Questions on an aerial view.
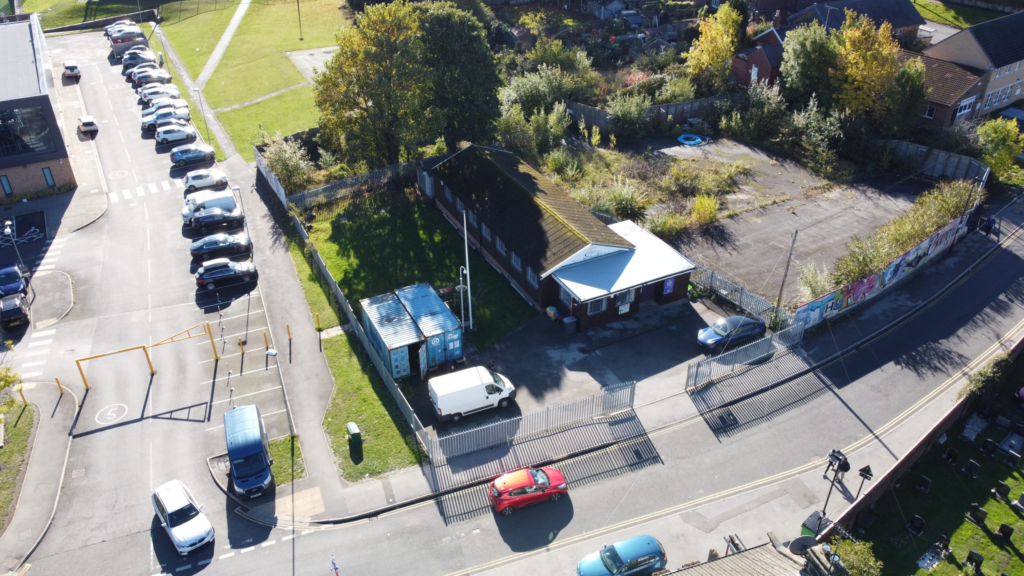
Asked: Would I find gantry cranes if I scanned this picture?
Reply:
No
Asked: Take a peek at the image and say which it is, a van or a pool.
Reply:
van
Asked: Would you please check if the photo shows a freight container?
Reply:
Yes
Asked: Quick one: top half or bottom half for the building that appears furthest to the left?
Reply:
top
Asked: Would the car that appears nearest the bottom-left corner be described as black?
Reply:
No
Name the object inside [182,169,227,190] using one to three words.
car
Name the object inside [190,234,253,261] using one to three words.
car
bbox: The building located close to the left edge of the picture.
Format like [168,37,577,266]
[0,11,80,199]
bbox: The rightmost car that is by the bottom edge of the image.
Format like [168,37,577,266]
[578,526,667,576]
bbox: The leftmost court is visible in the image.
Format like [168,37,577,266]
[286,46,374,85]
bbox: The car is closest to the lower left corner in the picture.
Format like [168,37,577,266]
[152,477,216,557]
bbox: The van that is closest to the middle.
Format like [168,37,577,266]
[428,362,521,422]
